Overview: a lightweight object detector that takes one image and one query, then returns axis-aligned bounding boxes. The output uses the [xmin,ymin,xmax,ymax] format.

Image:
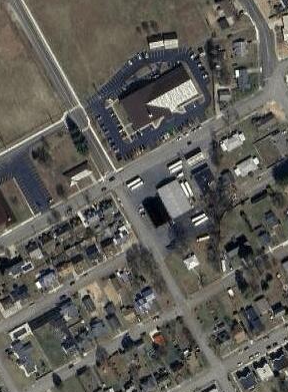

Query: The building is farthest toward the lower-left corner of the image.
[11,331,39,374]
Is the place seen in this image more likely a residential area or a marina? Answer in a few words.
residential area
